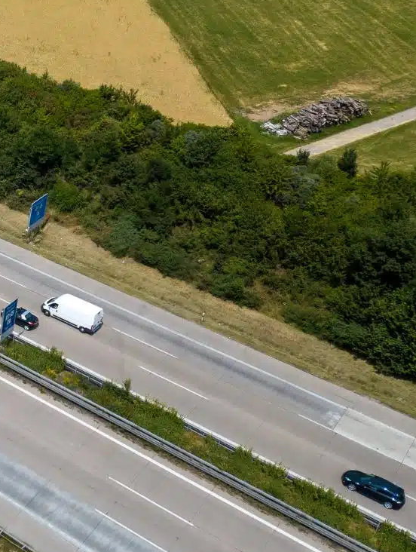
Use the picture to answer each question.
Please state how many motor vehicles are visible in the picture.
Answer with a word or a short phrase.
3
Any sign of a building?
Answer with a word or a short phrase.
No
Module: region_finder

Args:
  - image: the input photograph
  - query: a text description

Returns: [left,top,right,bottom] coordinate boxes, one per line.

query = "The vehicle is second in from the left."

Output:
[44,295,107,336]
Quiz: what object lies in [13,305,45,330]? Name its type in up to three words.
car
